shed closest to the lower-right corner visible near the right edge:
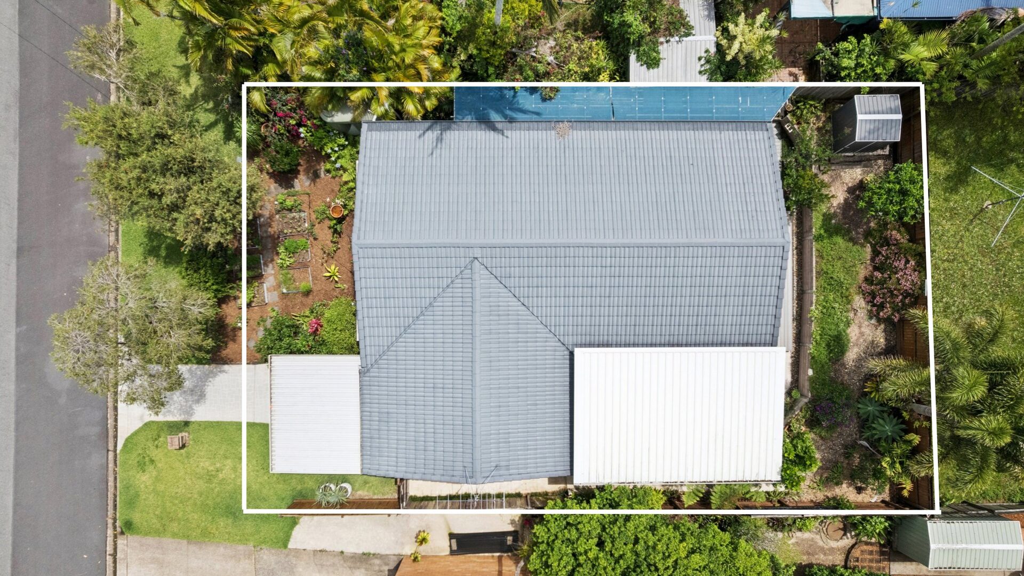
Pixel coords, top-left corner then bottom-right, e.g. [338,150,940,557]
[899,513,1024,570]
